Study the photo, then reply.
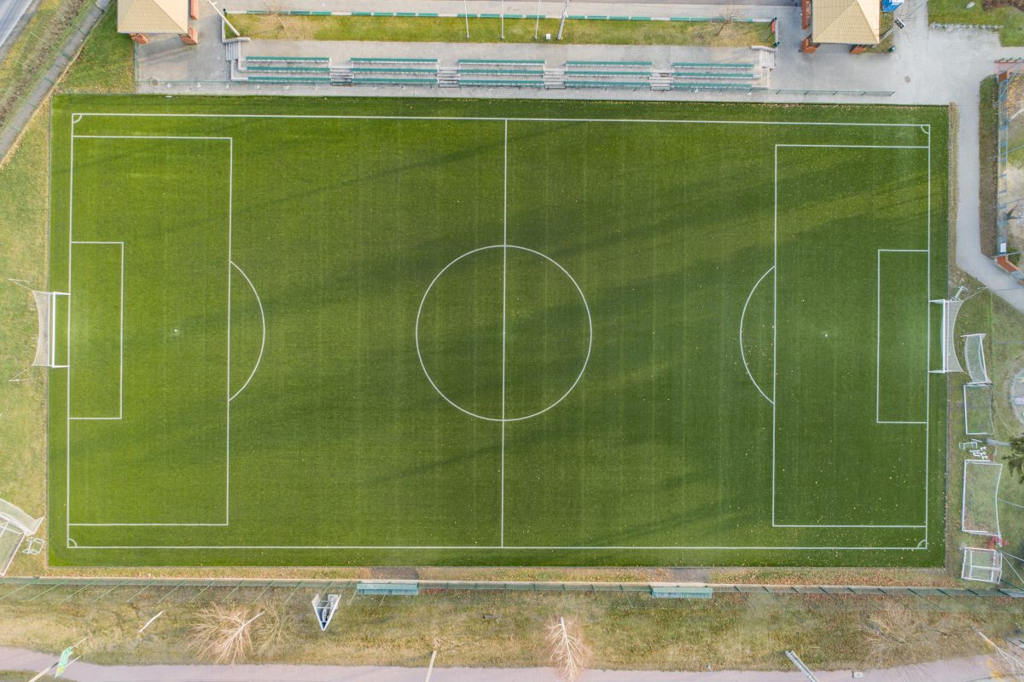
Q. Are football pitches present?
Yes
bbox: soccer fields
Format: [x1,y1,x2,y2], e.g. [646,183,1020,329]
[48,93,950,568]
